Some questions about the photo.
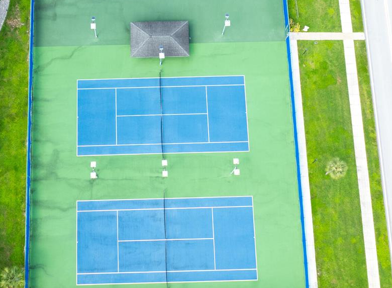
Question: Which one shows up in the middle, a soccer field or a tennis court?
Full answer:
Looking in the middle, you will find a tennis court.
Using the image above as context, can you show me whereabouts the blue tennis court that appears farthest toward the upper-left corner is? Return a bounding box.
[76,75,249,156]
